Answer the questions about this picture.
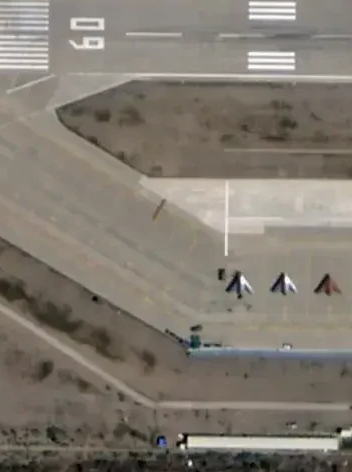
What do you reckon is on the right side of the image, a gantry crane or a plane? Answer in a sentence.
What appears on the right side of the image is a plane.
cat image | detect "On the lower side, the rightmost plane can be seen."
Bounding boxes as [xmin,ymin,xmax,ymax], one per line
[318,273,341,297]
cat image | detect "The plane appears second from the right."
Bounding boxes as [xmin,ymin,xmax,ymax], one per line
[274,272,297,296]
